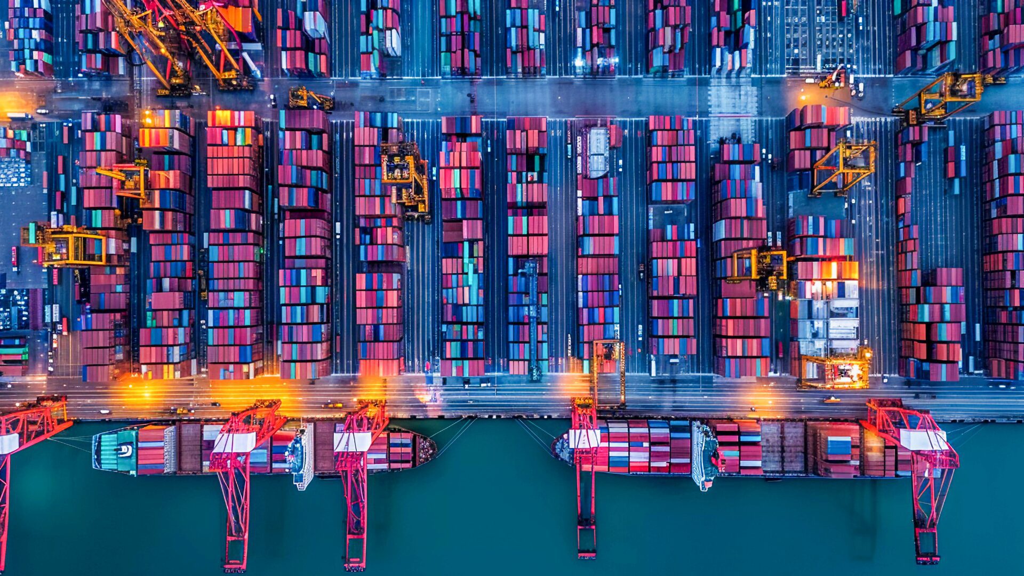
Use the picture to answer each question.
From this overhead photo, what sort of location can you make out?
port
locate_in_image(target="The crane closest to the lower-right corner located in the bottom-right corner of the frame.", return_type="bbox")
[857,398,962,565]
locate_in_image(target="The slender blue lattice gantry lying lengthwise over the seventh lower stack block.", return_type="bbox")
[518,262,537,375]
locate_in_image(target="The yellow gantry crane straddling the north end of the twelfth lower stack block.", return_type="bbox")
[897,73,1006,125]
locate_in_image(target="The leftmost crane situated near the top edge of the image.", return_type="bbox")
[104,0,190,99]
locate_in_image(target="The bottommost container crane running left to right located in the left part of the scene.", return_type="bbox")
[20,223,129,266]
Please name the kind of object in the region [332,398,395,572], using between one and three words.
container crane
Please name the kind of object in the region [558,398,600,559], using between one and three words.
container crane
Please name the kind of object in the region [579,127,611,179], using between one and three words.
shed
